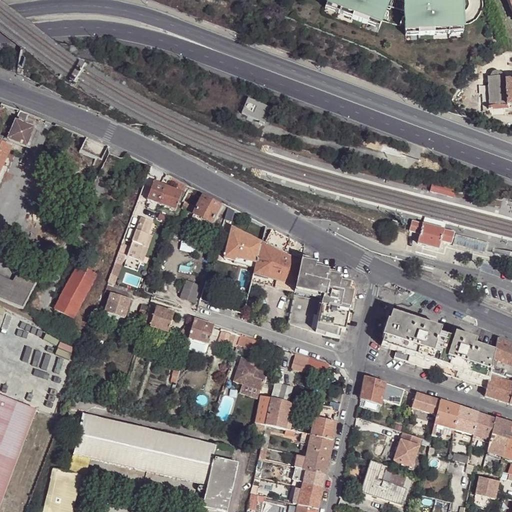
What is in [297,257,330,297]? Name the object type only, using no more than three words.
building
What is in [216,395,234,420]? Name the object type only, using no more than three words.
swimming pool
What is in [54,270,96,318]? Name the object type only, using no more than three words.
barn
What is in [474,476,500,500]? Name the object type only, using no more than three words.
house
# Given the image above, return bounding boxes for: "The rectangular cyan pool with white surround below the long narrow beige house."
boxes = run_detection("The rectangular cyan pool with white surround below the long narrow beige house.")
[122,272,141,289]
